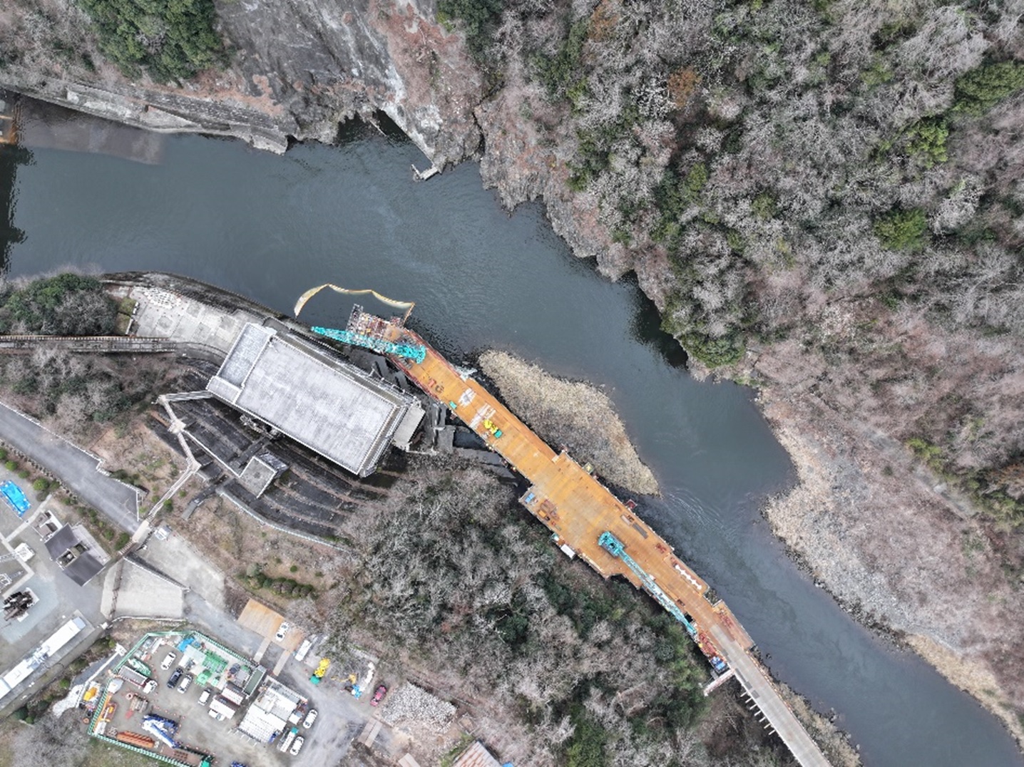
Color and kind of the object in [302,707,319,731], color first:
white car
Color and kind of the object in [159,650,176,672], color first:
white car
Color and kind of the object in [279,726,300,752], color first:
white truck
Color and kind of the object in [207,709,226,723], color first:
white vehicle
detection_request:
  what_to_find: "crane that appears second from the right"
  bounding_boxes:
[312,327,429,364]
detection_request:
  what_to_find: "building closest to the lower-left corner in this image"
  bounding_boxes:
[0,613,96,708]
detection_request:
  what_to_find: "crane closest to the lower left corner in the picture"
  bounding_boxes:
[138,707,178,751]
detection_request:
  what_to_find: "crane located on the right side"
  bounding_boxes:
[597,529,697,636]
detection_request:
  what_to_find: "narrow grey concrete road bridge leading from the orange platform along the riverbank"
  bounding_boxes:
[710,623,831,767]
